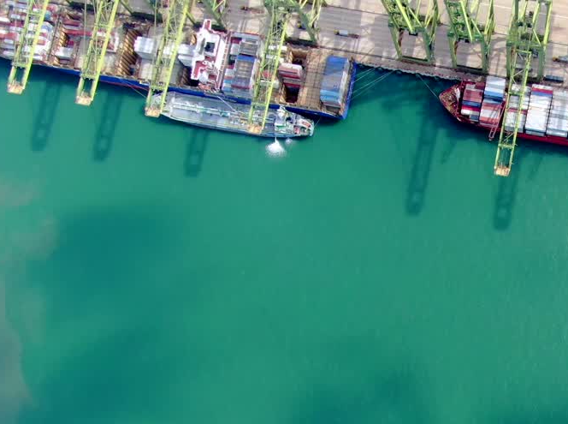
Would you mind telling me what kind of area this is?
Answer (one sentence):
The area seen from above is a port.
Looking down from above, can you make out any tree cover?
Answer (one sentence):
No, there is no tree cover in the image.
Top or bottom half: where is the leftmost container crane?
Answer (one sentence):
The top half of the photo is where the leftmost container crane is.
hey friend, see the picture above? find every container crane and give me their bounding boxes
[378,0,448,65]
[139,0,237,118]
[442,0,504,75]
[2,0,116,94]
[71,0,176,106]
[492,0,558,180]
[241,0,337,136]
